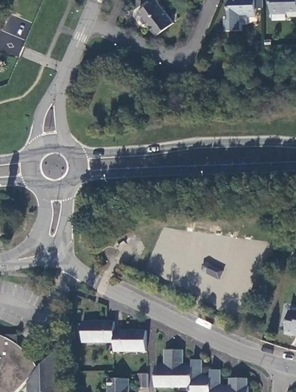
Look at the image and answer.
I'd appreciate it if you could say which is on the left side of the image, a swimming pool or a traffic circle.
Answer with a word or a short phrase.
traffic circle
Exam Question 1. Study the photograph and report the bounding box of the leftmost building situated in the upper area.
[136,0,175,36]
